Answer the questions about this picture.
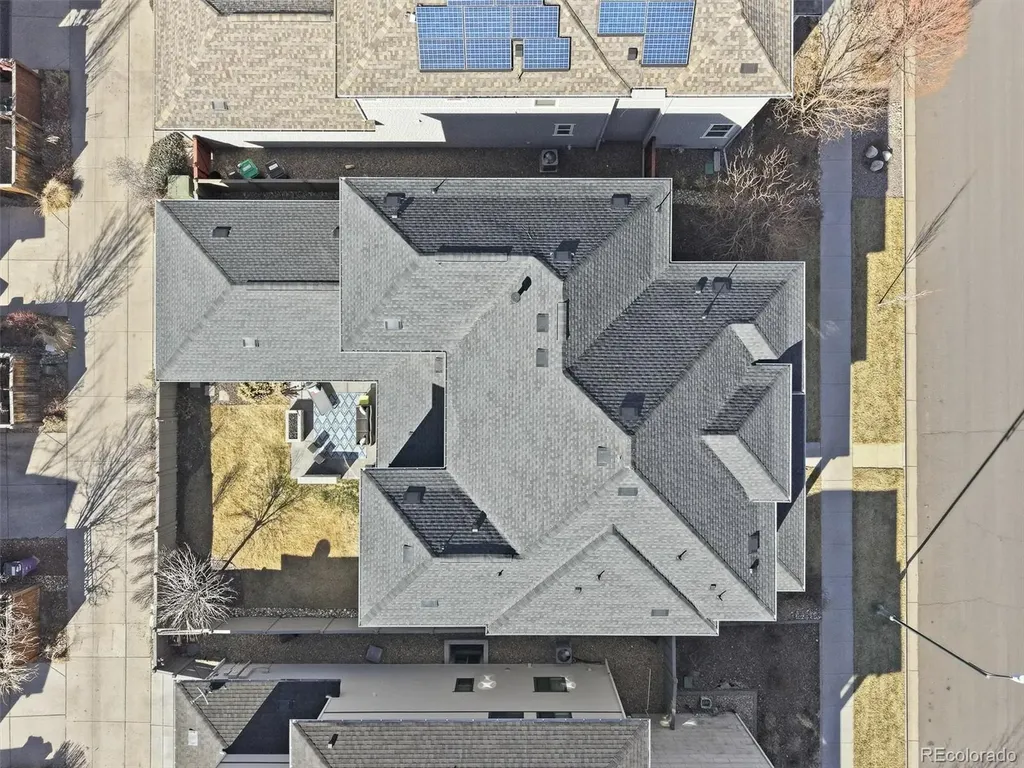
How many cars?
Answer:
zero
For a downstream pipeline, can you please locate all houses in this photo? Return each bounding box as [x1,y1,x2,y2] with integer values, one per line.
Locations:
[174,661,775,768]
[155,177,806,636]
[154,0,835,169]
